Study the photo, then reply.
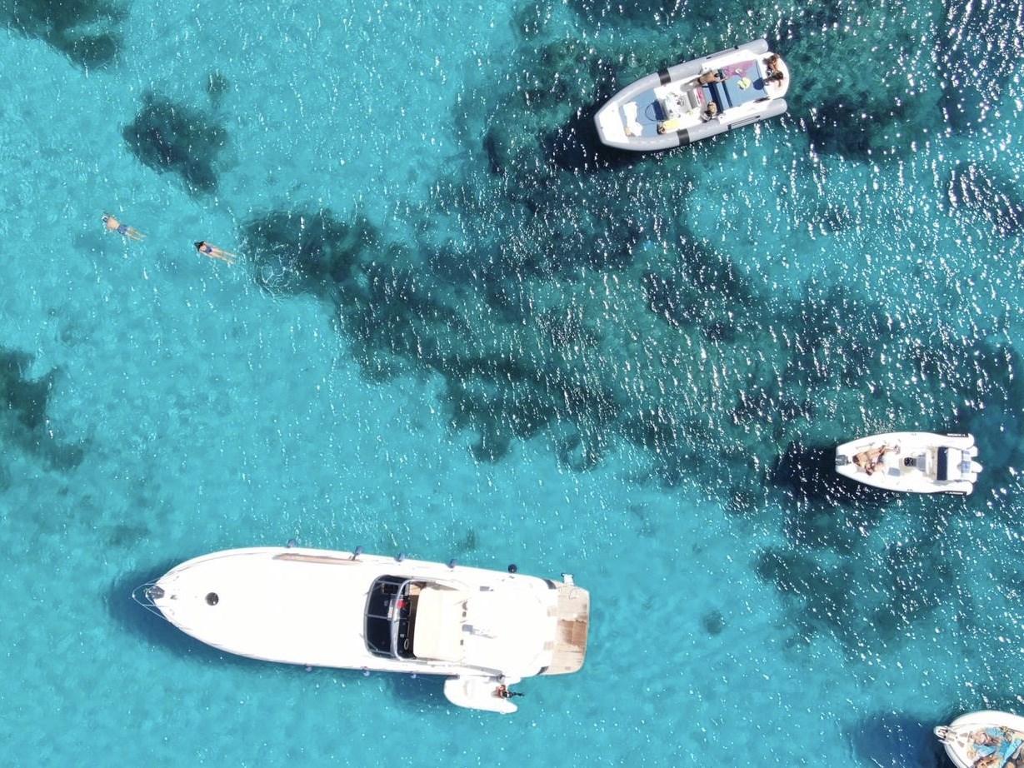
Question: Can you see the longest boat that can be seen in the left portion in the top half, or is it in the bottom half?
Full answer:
The longest boat that can be seen in the left portion is in the bottom half of the image.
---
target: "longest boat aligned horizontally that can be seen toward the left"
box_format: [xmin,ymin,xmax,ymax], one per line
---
[132,547,590,682]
